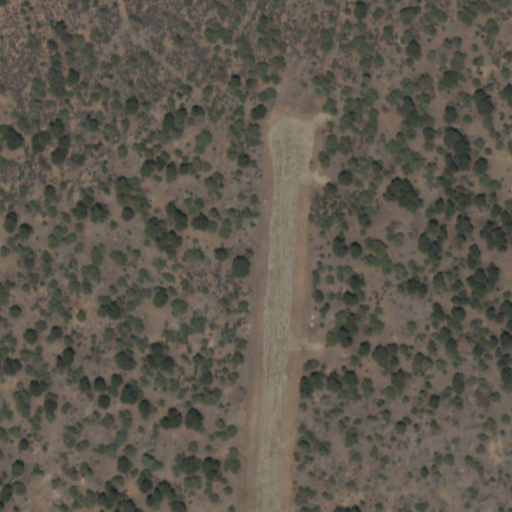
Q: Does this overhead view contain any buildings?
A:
No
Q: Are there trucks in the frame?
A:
No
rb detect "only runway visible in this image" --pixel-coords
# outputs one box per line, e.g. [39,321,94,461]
[240,110,332,512]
